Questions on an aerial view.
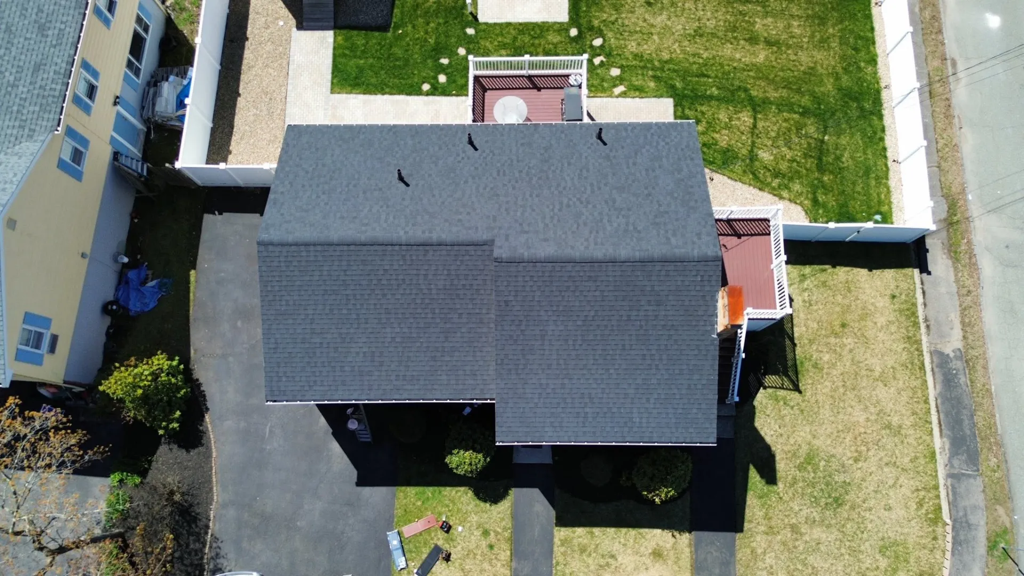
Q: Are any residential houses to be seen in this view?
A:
Yes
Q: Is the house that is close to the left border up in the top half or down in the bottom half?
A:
top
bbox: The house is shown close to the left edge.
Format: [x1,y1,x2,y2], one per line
[0,0,167,393]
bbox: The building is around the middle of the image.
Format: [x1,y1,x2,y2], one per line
[259,120,745,448]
